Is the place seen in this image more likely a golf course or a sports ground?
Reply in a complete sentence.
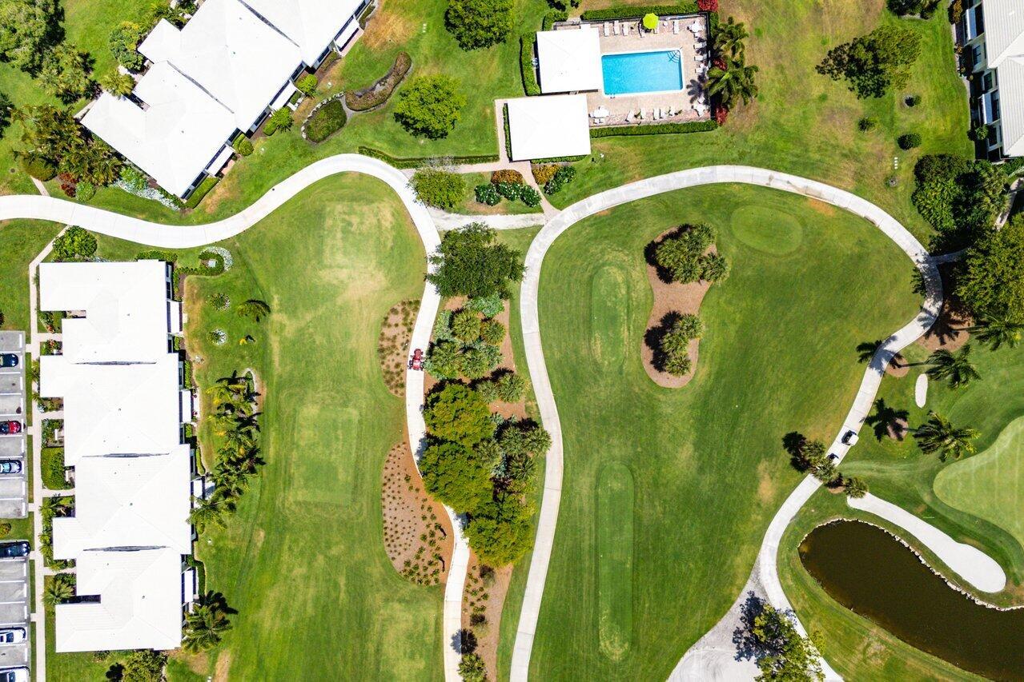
The area seen from above is a golf course.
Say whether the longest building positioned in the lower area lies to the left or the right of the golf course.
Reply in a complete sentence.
Looking at the photo, the longest building positioned in the lower area lies to the left of the golf course.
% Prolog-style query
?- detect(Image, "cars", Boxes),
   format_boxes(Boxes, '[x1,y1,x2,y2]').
[0,626,28,646]
[0,418,23,436]
[0,666,32,682]
[0,540,33,560]
[0,352,21,370]
[0,458,24,476]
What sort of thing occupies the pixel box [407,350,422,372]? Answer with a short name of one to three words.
work vehicle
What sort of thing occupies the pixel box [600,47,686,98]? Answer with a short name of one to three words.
swimming pool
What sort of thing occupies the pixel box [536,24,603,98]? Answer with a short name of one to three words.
building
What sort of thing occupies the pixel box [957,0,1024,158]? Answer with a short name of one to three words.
building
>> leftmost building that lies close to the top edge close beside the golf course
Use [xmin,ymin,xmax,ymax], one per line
[82,0,373,198]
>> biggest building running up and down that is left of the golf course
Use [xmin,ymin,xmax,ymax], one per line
[40,258,210,653]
